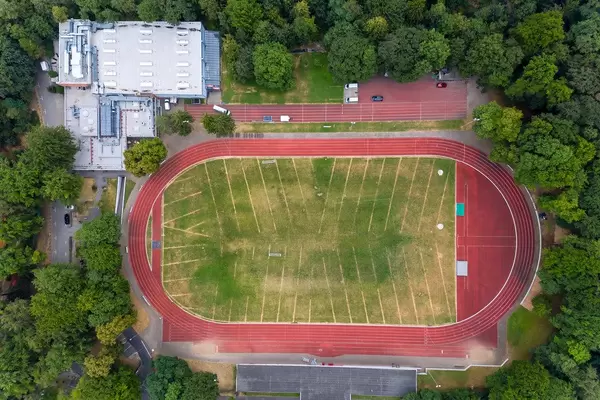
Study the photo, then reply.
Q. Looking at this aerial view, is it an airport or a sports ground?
sports ground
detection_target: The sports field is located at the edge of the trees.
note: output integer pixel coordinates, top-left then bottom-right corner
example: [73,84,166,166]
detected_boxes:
[161,156,455,325]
